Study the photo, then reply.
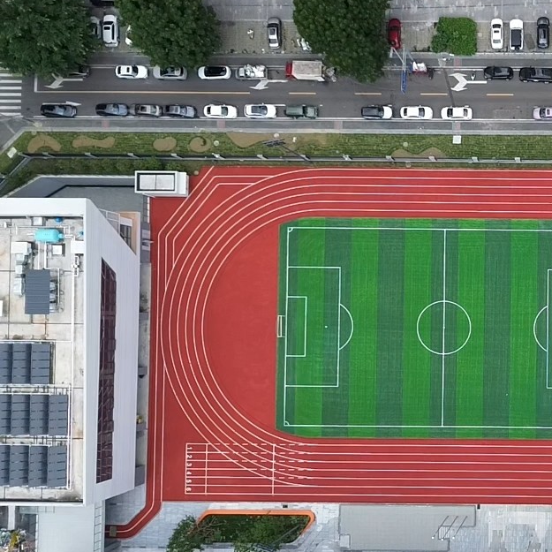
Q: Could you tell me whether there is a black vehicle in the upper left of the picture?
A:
Yes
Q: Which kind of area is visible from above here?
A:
sports ground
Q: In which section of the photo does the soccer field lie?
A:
right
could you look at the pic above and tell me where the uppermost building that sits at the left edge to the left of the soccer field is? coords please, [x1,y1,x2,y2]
[0,199,144,505]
